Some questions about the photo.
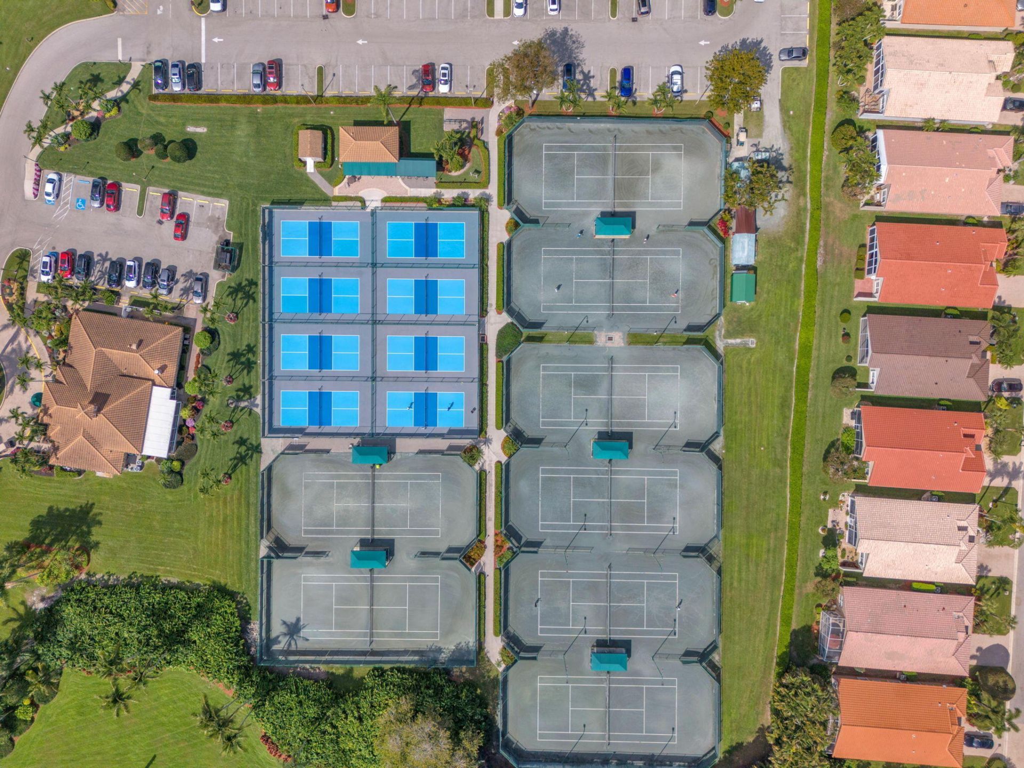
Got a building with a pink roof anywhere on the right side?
Yes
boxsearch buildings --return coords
[729,234,756,266]
[822,674,968,768]
[846,314,989,400]
[868,0,1011,31]
[849,130,1015,217]
[848,36,1016,124]
[817,497,980,584]
[803,584,976,676]
[727,273,756,304]
[32,310,188,477]
[841,222,1006,307]
[339,126,437,180]
[839,406,985,492]
[299,128,326,176]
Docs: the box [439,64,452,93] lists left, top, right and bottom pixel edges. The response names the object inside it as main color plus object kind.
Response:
white vehicle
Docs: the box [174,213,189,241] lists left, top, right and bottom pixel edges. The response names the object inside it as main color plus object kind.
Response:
red car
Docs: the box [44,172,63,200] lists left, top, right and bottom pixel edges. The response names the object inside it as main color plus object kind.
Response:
white car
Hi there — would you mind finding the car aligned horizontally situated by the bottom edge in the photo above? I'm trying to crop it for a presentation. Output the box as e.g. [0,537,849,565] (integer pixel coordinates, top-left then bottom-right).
[963,733,994,748]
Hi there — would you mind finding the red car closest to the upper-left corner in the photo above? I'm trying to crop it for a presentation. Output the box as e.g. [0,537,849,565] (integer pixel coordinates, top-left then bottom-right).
[106,183,121,211]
